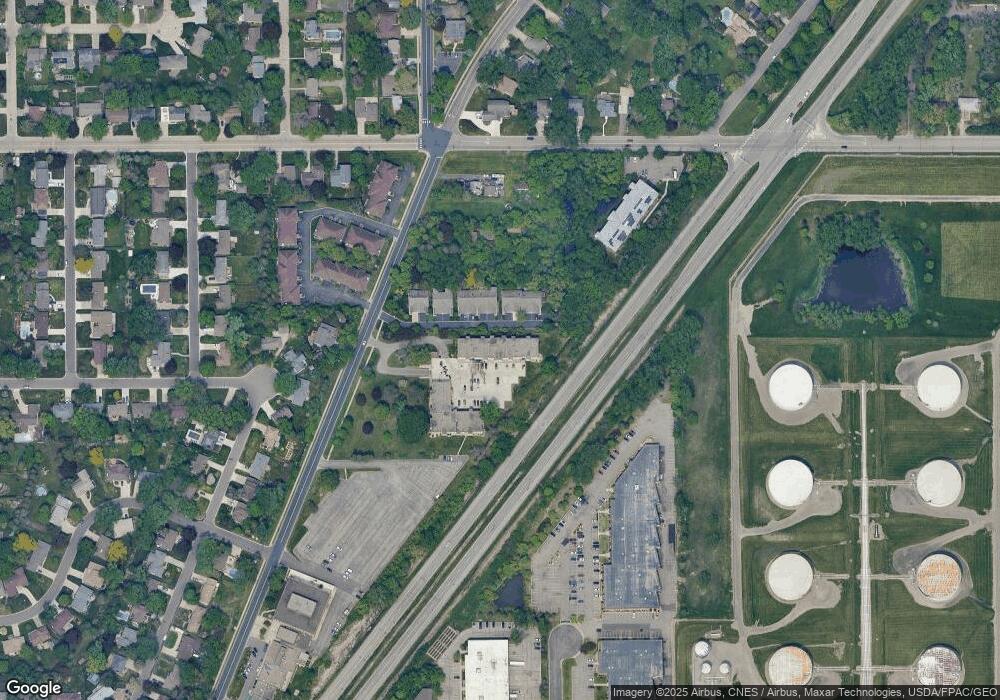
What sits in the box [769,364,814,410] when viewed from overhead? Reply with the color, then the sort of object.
white storage tank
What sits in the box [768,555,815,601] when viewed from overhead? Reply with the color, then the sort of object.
white storage tank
